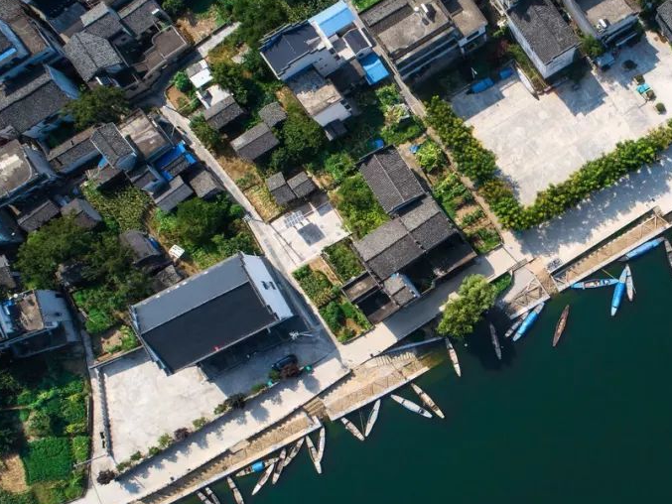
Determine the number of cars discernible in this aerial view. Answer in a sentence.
My tally gives 1 car in this photo.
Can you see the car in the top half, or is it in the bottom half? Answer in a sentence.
The bottom half of the photo is where the car is.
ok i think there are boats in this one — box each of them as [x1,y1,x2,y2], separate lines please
[197,494,209,504]
[514,302,544,341]
[446,338,461,376]
[506,312,530,336]
[572,281,619,288]
[206,488,219,504]
[390,394,431,417]
[411,385,444,418]
[666,241,672,264]
[252,464,274,495]
[491,324,501,358]
[619,237,666,260]
[554,306,569,346]
[236,459,277,476]
[273,450,286,484]
[227,478,243,504]
[342,418,364,440]
[612,266,628,315]
[366,400,380,437]
[284,439,305,466]
[307,437,320,474]
[628,264,633,301]
[317,428,323,466]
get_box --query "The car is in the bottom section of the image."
[271,350,300,371]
